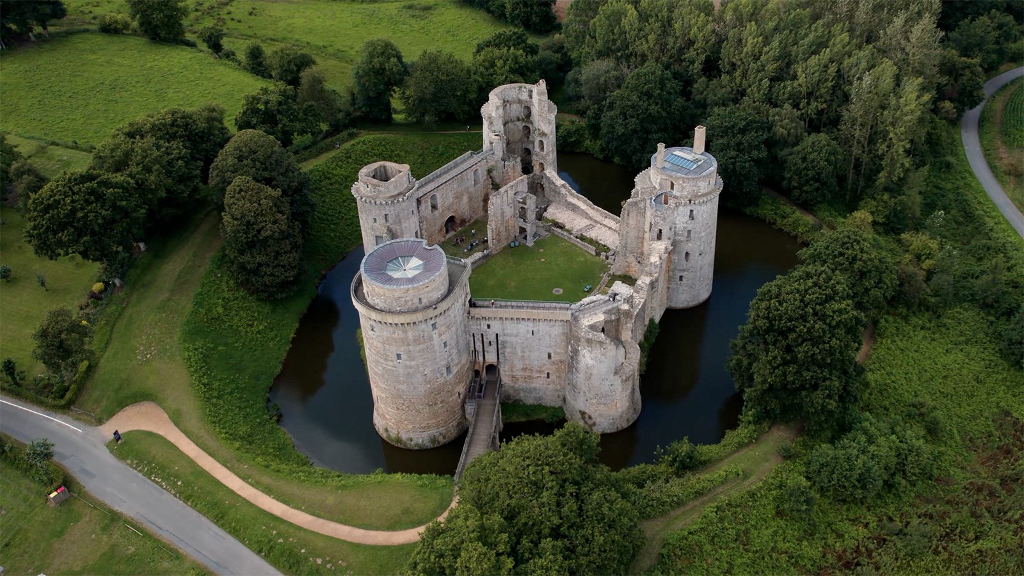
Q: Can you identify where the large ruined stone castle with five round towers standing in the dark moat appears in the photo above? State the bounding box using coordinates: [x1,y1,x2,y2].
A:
[348,84,722,450]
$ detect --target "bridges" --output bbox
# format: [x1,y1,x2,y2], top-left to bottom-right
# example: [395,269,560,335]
[454,371,502,485]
